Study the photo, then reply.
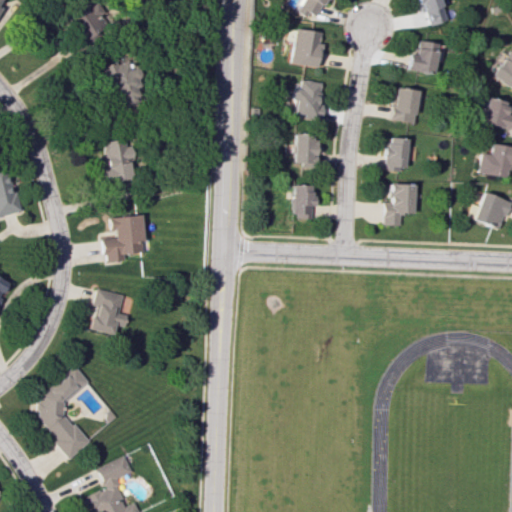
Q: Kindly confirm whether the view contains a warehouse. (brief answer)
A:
No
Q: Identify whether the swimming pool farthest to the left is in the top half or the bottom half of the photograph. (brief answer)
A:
bottom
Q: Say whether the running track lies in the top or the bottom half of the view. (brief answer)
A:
bottom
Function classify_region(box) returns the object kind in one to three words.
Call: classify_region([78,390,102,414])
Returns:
swimming pool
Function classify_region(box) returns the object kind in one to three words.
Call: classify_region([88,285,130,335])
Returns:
house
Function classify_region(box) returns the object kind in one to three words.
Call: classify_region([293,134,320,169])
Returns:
house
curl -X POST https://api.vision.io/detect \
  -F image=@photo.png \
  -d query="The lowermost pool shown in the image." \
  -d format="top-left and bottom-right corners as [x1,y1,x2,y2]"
[127,480,148,501]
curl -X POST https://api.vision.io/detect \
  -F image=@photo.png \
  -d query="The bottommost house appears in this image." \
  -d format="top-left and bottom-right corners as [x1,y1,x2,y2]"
[90,454,140,512]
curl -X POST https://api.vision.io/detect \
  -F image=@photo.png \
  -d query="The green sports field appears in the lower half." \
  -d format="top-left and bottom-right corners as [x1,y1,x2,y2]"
[388,354,512,512]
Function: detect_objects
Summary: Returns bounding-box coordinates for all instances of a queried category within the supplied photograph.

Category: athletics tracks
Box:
[371,331,512,512]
